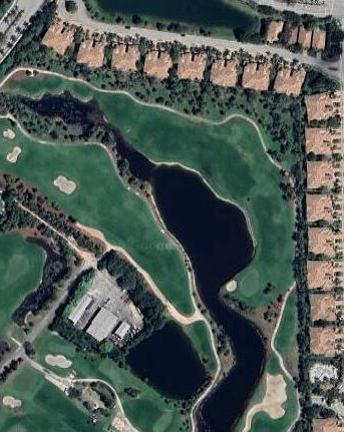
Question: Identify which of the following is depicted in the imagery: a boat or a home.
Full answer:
The one in the frame is a home.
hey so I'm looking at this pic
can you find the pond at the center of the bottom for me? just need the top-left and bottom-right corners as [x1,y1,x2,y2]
[127,322,209,399]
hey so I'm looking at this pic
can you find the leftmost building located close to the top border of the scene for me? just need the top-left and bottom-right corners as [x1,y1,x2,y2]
[40,16,77,58]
